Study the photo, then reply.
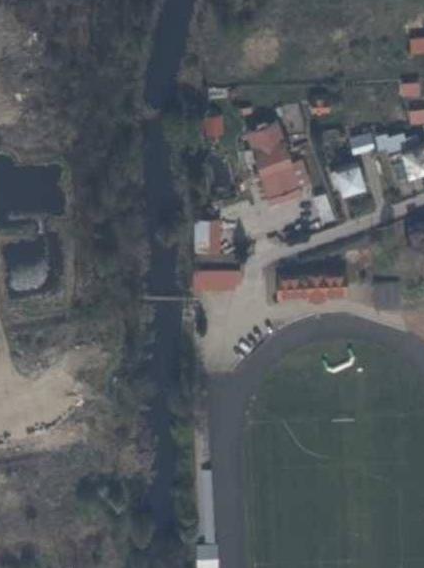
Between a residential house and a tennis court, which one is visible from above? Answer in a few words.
residential house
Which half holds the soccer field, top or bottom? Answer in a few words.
bottom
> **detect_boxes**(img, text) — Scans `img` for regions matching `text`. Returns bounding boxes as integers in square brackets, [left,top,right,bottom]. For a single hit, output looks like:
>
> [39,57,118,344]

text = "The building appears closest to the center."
[192,270,243,291]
